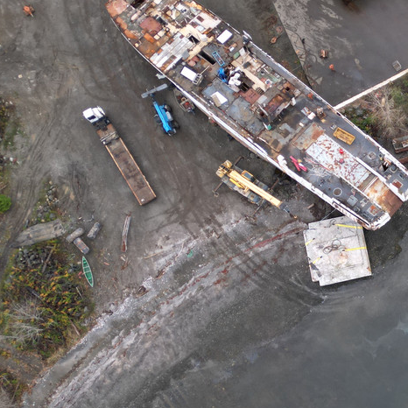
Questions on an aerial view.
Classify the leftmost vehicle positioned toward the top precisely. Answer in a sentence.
I'd say the leftmost vehicle positioned toward the top is a truck.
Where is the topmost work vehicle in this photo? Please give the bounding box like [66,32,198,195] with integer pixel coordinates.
[141,88,176,135]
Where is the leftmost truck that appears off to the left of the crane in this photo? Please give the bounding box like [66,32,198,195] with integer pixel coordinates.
[82,106,155,205]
